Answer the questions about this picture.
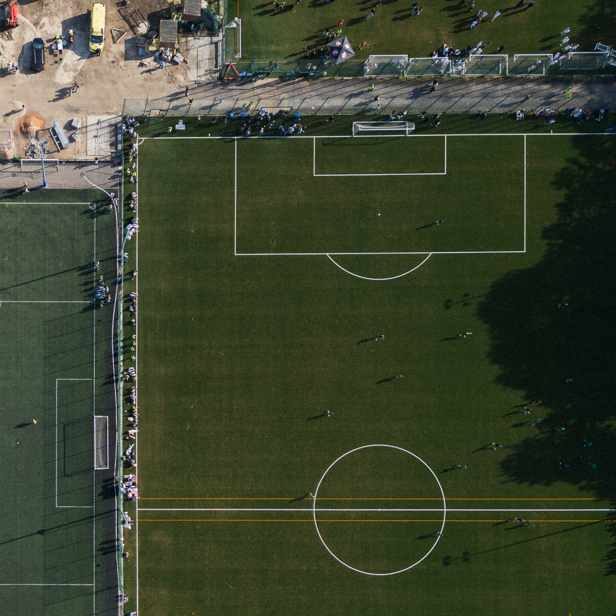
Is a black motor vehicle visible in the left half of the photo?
Yes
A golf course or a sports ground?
sports ground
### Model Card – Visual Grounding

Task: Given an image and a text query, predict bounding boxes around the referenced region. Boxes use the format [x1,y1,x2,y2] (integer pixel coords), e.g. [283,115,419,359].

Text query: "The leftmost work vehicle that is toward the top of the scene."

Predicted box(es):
[4,0,21,27]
